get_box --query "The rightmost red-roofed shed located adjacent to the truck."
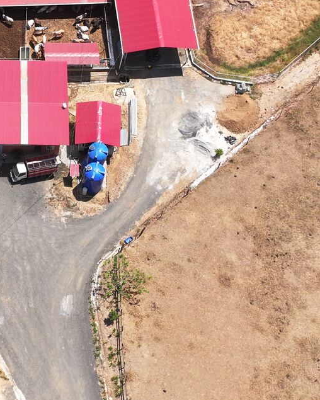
[76,98,122,147]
